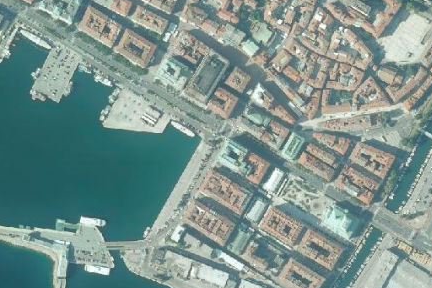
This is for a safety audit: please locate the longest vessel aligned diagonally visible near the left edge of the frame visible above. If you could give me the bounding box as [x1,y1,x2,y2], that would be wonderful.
[19,27,50,47]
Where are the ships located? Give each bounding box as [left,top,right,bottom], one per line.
[172,122,193,136]
[19,27,50,47]
[84,264,110,275]
[80,215,106,225]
